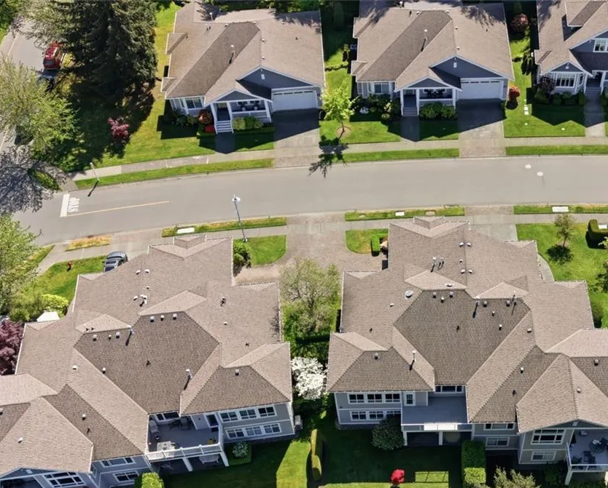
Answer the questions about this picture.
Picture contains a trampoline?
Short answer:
No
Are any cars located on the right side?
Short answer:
No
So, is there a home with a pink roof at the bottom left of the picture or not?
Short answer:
No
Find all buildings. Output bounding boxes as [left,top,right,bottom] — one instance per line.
[0,234,294,488]
[350,0,515,116]
[534,0,608,98]
[323,216,608,479]
[159,0,328,130]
